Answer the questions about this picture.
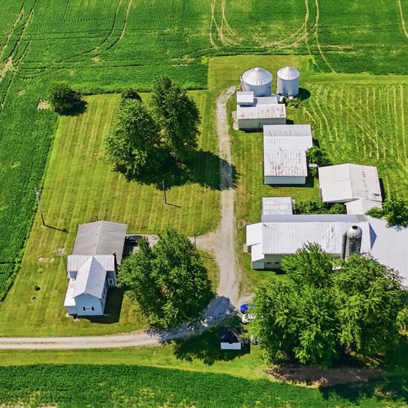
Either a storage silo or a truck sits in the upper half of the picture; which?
storage silo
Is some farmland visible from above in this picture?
Yes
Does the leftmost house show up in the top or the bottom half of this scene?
bottom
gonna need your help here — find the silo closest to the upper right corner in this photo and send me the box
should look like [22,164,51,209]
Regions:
[276,66,300,96]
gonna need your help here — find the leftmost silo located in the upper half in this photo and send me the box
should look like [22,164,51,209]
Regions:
[242,68,274,97]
